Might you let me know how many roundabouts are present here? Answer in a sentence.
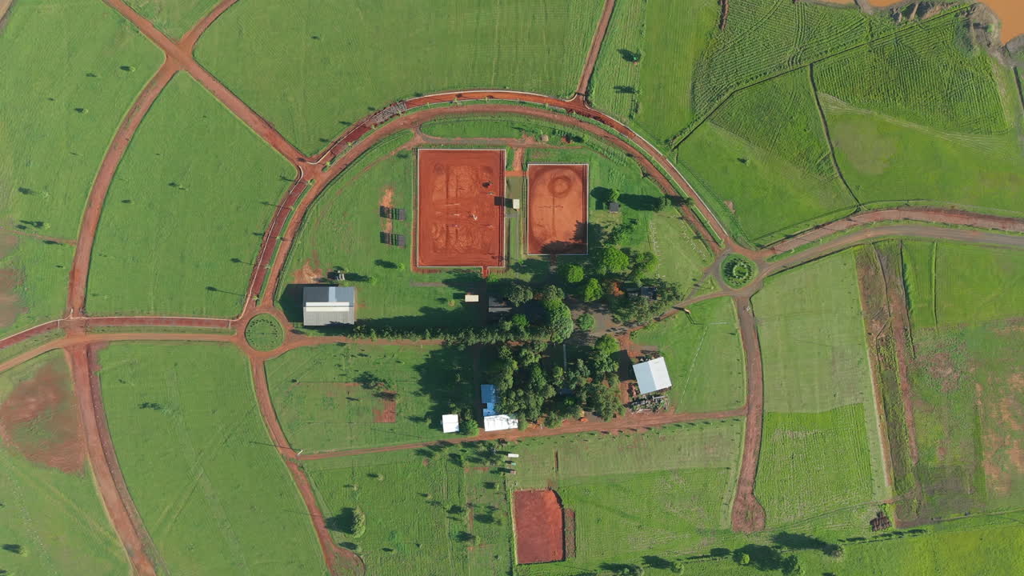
There are 2 roundabouts in the image.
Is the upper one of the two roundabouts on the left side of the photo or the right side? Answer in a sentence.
It is on the right.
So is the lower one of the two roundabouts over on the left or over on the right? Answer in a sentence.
The lower one of the two roundabouts is on the left side of the image.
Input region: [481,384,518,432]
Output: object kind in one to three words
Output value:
house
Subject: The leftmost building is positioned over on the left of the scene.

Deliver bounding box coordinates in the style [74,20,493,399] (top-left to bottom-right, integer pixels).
[302,287,356,326]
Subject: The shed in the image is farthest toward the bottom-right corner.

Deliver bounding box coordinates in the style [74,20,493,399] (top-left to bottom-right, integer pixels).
[632,357,672,394]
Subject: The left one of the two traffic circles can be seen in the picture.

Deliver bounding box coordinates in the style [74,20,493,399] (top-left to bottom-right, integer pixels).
[235,302,294,362]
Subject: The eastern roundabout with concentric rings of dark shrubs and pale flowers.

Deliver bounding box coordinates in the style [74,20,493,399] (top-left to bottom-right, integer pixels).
[712,243,767,299]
